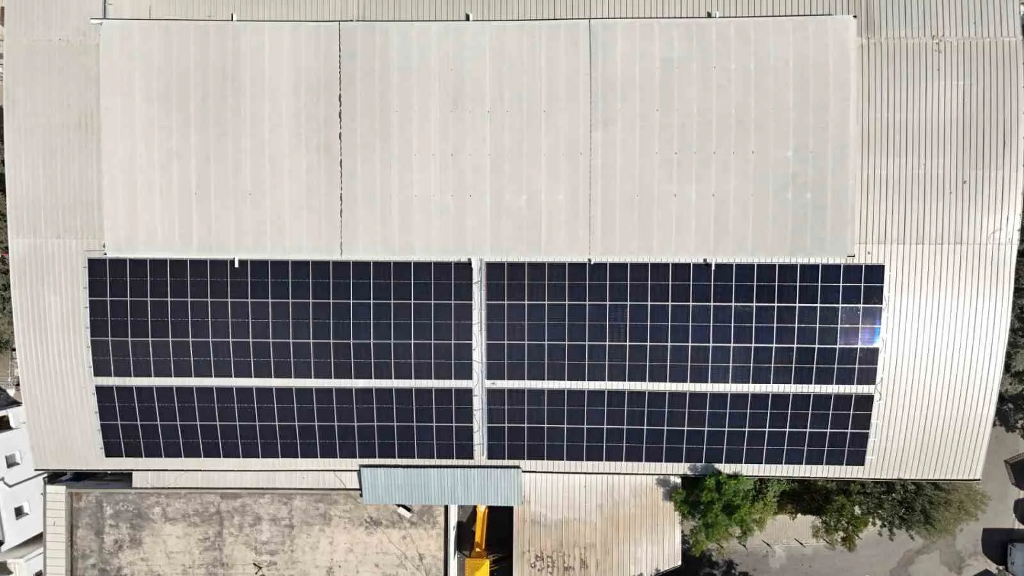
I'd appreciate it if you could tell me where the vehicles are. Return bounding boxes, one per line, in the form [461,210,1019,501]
[990,536,1024,576]
[461,506,499,576]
